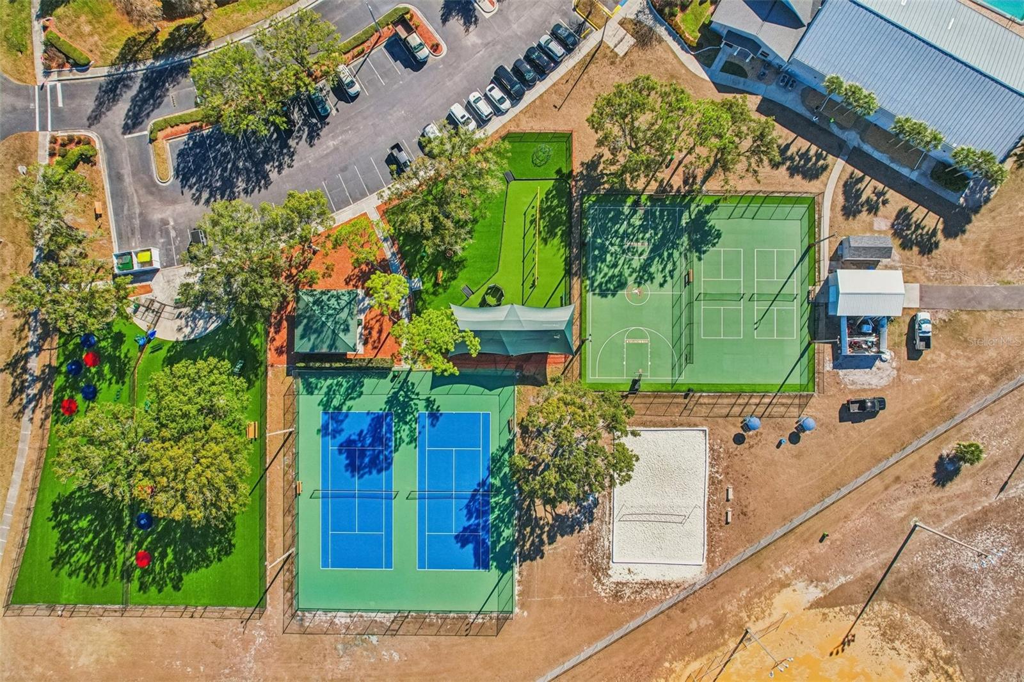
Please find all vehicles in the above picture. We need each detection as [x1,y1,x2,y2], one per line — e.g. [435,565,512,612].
[337,64,362,98]
[391,143,416,180]
[400,14,434,62]
[468,91,495,122]
[539,35,567,63]
[913,312,932,351]
[525,47,554,75]
[493,64,525,100]
[511,57,538,87]
[309,88,332,119]
[485,83,511,114]
[449,101,477,132]
[551,22,580,50]
[844,397,886,413]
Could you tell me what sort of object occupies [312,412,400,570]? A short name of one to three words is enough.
tennis court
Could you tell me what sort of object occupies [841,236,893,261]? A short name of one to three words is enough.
shed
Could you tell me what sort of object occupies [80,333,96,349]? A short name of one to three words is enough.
umbrella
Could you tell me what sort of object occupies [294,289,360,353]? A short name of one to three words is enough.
building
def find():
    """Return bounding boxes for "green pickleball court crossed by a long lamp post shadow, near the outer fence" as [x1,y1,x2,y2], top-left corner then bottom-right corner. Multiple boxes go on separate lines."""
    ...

[754,249,800,339]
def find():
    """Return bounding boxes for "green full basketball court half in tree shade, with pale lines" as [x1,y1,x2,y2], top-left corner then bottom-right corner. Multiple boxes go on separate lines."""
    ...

[589,206,685,380]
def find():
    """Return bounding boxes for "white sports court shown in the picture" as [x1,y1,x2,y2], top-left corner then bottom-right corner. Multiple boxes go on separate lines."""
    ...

[612,429,708,565]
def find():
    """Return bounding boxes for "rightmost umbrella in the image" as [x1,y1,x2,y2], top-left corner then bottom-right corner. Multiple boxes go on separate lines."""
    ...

[802,418,815,431]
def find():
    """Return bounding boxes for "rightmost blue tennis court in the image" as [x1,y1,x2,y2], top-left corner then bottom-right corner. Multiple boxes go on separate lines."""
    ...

[410,412,497,571]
